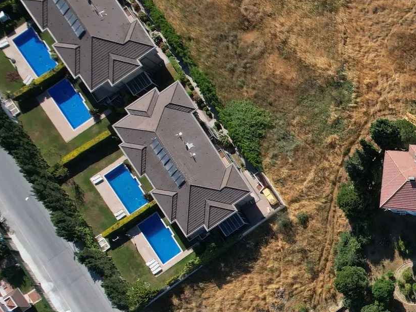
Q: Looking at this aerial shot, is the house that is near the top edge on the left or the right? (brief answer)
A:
left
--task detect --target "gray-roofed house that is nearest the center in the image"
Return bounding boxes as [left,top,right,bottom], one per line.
[110,80,261,241]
